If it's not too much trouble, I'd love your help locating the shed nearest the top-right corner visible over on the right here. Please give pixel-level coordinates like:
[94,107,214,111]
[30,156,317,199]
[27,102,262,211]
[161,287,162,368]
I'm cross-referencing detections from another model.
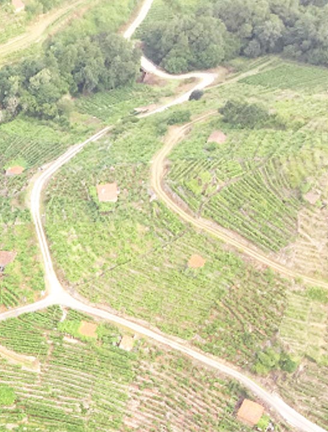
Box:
[204,129,226,151]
